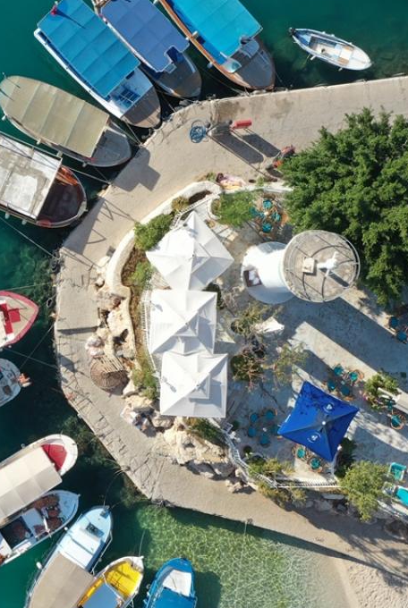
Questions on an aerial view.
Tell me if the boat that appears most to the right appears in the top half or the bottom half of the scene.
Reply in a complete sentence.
The boat that appears most to the right is in the top half of the image.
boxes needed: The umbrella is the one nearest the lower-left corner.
[159,350,228,418]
